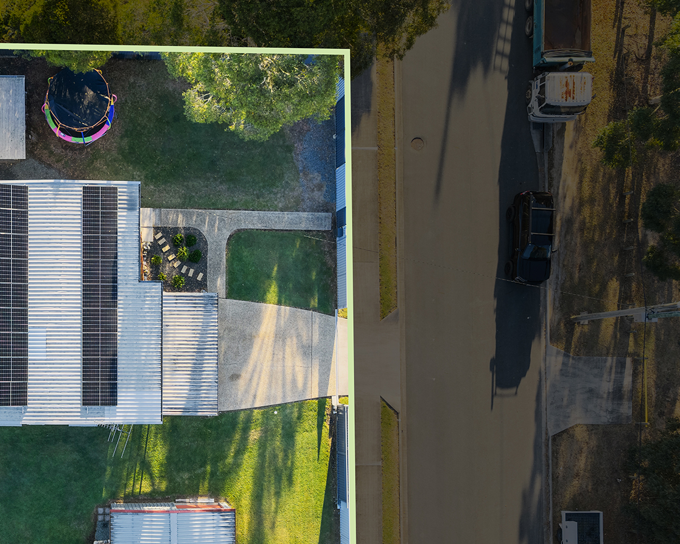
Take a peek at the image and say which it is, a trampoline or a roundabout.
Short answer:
trampoline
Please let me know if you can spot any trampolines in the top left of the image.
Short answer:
Yes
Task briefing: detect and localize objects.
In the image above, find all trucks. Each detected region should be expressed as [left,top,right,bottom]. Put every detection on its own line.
[512,0,594,122]
[553,510,602,544]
